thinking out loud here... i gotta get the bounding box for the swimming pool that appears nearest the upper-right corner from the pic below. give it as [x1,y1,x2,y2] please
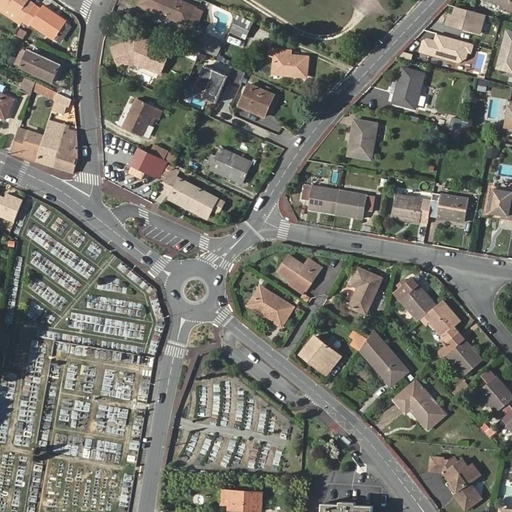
[474,51,487,71]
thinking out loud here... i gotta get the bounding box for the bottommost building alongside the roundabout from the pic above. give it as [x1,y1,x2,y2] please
[246,286,295,328]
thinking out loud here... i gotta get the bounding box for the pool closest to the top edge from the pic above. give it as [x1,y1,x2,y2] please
[214,10,229,32]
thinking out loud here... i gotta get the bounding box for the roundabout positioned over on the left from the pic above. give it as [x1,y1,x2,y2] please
[164,260,226,321]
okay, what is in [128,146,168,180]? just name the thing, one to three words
building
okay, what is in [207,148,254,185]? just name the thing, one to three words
house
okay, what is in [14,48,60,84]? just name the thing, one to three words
house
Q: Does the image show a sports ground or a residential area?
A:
residential area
